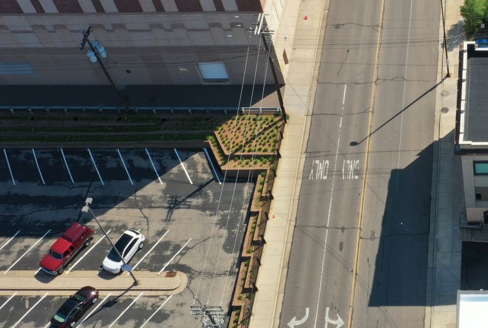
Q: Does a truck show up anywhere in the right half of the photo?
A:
No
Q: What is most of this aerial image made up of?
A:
paved ground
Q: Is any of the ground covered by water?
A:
No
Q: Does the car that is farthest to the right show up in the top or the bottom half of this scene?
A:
bottom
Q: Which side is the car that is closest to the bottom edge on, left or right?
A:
left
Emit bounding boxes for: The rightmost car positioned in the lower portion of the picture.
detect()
[105,232,144,273]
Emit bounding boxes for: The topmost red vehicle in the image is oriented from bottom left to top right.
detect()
[38,224,95,276]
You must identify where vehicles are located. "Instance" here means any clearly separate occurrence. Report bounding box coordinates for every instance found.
[38,224,95,276]
[105,232,144,273]
[47,286,103,328]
